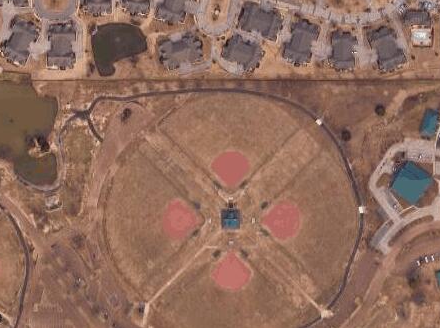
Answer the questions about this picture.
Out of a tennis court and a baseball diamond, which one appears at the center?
baseball diamond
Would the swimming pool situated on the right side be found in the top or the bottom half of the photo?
top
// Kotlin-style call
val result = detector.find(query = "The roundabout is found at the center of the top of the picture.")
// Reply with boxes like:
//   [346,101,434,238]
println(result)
[194,0,236,41]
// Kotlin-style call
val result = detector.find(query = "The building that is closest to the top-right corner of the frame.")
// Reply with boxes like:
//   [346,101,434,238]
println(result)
[405,11,430,24]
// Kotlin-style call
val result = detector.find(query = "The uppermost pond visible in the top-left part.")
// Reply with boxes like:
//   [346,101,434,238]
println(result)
[93,23,146,74]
